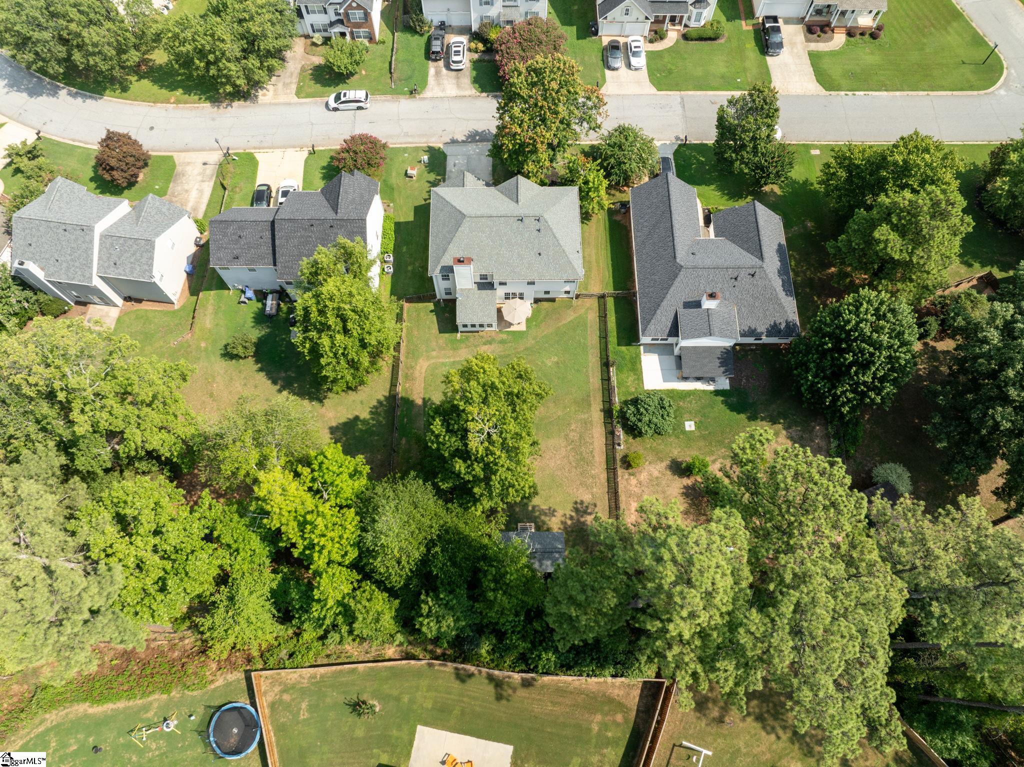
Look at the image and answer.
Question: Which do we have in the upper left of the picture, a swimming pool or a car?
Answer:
car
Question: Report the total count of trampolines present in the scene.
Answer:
one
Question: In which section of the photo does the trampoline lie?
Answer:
bottom left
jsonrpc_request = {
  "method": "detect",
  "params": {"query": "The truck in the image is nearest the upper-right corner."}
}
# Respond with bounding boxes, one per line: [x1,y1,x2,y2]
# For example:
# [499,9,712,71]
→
[761,14,785,56]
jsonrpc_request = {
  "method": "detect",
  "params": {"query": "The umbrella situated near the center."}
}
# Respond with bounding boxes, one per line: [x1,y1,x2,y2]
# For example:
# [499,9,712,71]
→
[500,299,531,328]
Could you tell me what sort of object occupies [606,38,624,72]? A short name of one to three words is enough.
car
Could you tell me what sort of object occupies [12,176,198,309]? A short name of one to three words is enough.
house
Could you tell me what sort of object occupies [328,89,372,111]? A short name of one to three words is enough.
car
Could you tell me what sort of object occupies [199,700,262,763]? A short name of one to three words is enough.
trampoline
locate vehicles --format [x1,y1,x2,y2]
[761,14,785,56]
[428,29,445,60]
[658,154,677,179]
[250,180,273,206]
[447,37,466,70]
[328,89,372,111]
[277,180,298,206]
[606,38,624,72]
[627,36,648,71]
